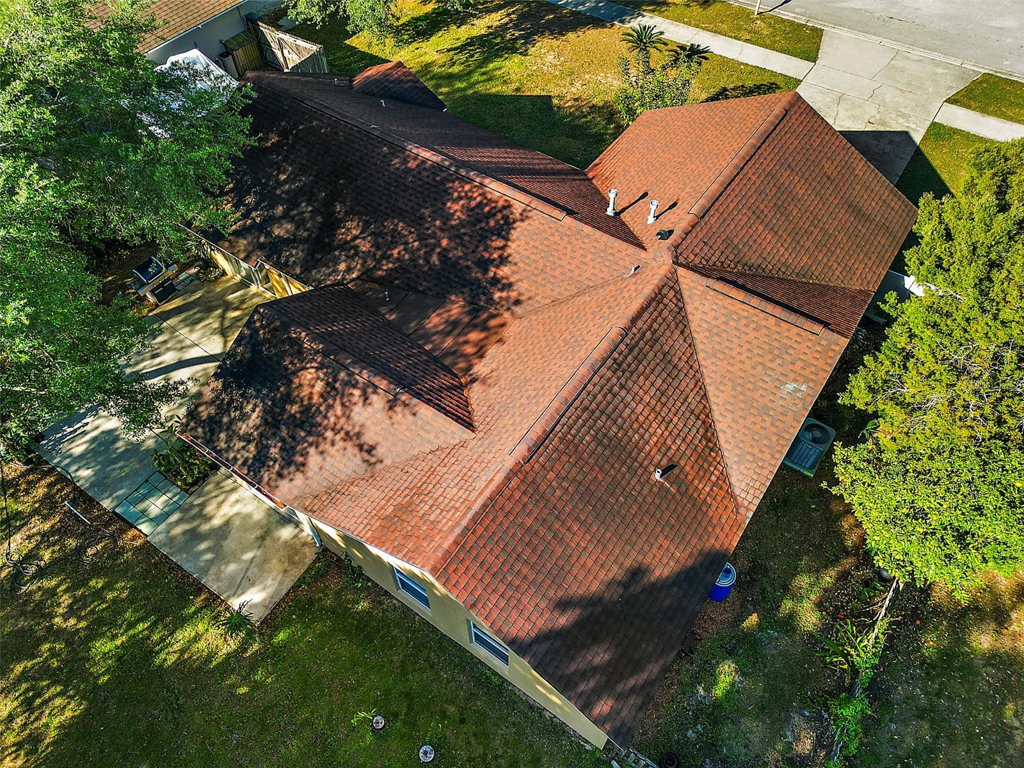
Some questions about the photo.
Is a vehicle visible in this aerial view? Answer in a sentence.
No, the photo shows no vehicle.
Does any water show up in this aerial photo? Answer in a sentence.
No, the picture contains no water.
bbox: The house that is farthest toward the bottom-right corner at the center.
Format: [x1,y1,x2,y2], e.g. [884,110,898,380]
[157,59,916,749]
